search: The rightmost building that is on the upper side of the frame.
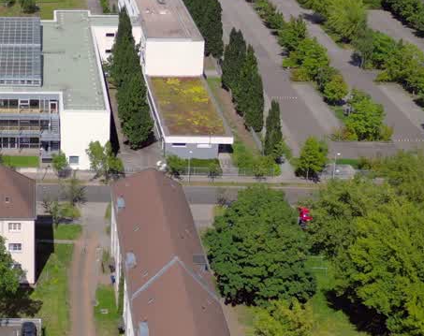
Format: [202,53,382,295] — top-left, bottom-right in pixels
[146,80,233,163]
